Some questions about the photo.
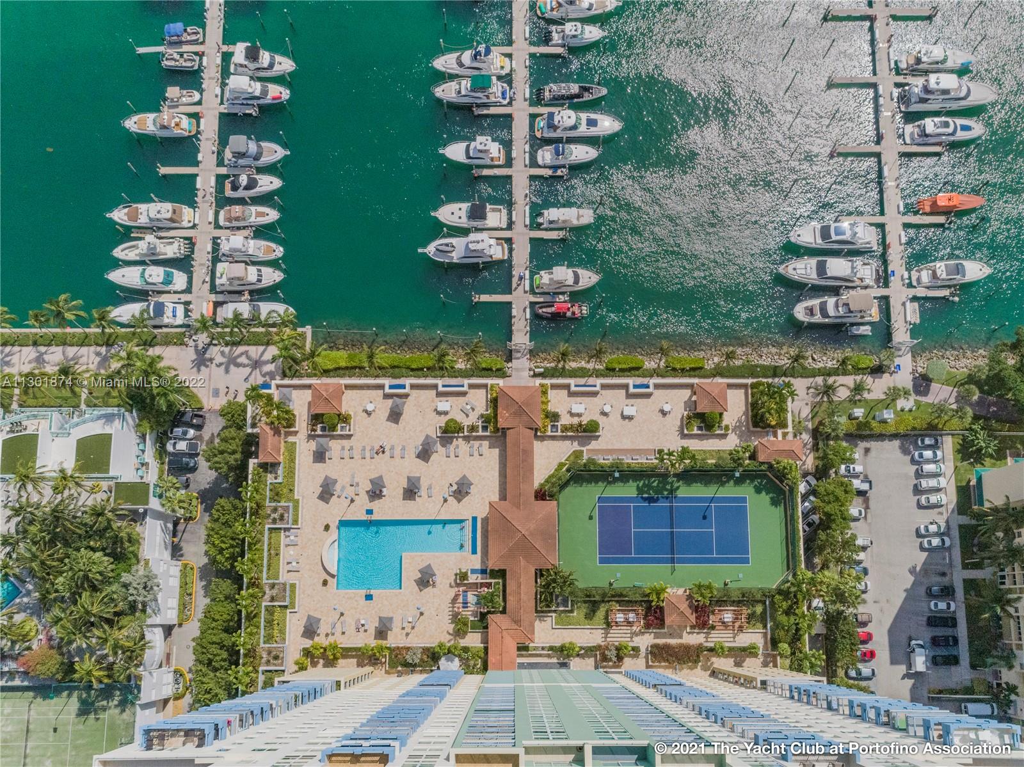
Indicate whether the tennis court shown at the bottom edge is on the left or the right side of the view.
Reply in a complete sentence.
The tennis court shown at the bottom edge sits on the left side.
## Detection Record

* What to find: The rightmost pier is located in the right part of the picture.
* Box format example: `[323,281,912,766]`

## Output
[826,0,960,375]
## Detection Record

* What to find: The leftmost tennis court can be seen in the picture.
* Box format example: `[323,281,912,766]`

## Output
[0,685,131,767]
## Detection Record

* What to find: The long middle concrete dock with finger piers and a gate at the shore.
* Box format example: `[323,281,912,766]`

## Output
[472,0,570,376]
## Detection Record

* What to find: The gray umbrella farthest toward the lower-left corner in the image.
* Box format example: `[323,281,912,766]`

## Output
[303,613,323,633]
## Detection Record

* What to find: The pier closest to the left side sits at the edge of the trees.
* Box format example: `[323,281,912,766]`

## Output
[128,0,261,326]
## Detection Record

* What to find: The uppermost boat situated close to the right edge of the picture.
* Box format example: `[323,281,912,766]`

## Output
[889,49,979,78]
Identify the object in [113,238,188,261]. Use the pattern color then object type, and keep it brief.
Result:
white boat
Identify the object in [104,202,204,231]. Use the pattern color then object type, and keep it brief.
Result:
white boat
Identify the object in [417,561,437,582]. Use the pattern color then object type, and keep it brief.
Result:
gray umbrella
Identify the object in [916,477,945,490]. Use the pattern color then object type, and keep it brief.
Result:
white vehicle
